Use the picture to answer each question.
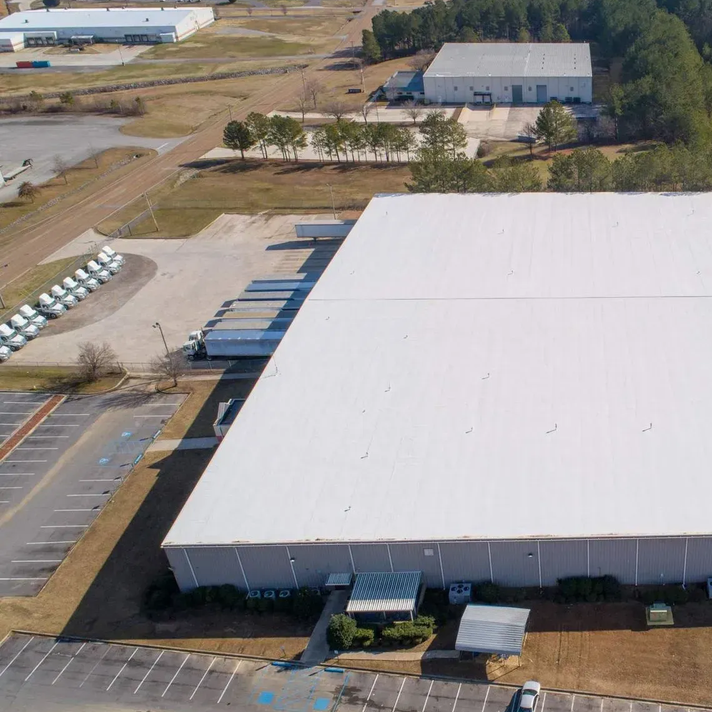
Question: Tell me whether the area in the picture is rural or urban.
urban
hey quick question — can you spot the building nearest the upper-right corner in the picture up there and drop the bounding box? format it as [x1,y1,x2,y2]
[422,43,594,103]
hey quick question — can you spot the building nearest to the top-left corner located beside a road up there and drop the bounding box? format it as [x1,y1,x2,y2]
[0,6,212,48]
